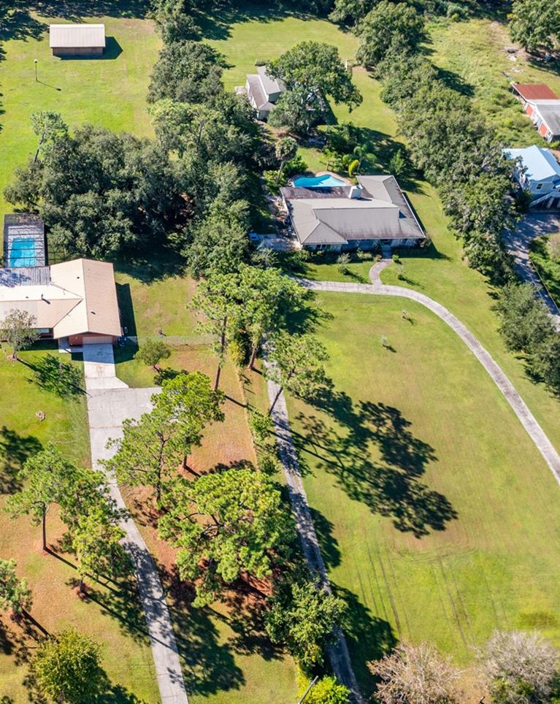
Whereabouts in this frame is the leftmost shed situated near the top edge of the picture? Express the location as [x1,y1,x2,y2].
[49,25,106,57]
